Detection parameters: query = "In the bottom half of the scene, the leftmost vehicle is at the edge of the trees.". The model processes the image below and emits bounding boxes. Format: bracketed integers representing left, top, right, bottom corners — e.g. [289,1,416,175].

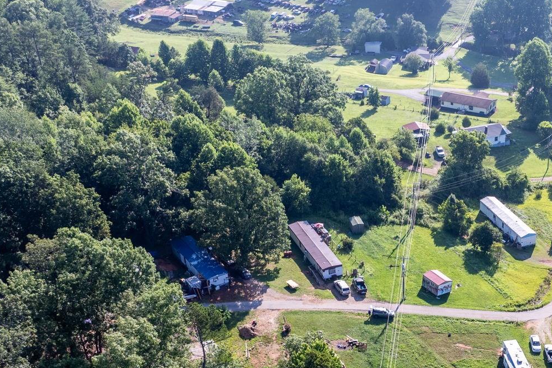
[236,265,253,280]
